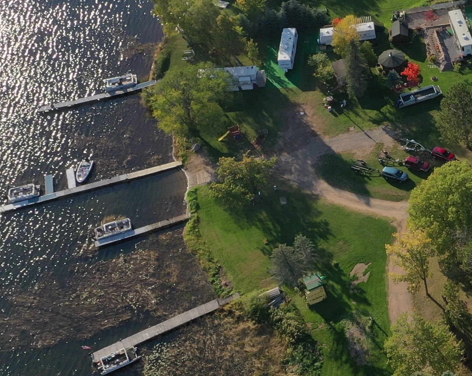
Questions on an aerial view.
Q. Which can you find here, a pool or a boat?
boat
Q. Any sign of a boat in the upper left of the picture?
Yes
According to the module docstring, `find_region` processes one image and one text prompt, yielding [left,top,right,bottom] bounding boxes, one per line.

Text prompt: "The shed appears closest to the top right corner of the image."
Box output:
[390,19,408,47]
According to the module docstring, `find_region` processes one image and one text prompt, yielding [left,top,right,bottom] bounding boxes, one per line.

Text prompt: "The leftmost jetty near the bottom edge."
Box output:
[92,299,227,361]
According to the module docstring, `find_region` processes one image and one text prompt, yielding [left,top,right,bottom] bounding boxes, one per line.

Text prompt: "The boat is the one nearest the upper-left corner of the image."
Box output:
[103,74,139,92]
